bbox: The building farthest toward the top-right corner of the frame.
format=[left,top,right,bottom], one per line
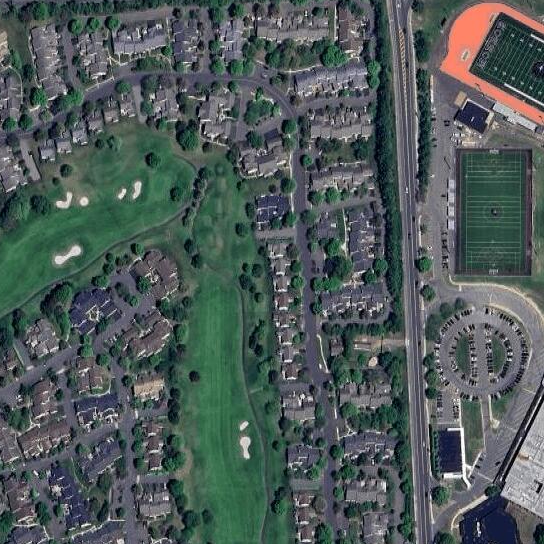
[454,93,493,131]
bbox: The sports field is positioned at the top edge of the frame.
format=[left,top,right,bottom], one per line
[469,11,544,111]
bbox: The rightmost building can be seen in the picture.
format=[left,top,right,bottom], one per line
[501,422,544,523]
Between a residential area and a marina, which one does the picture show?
residential area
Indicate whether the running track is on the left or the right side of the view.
right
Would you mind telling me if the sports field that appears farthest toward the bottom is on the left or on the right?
right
